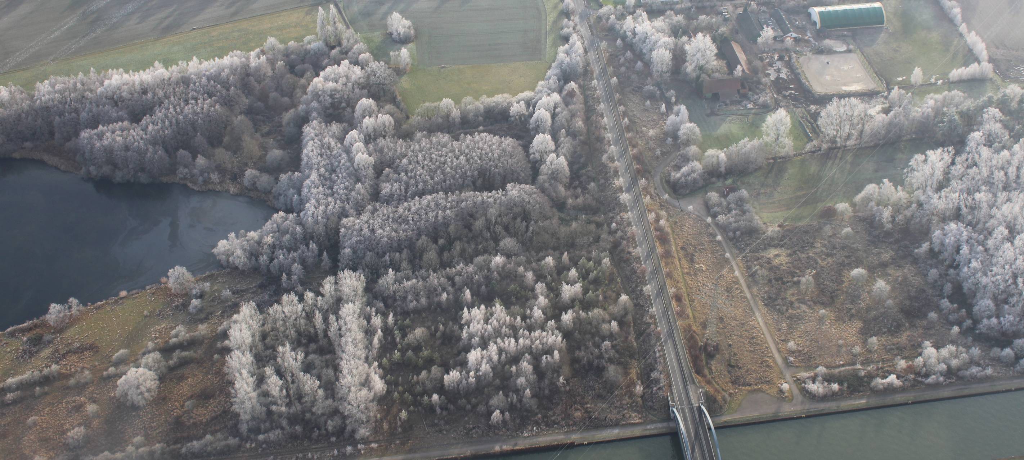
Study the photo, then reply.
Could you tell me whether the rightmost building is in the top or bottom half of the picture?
top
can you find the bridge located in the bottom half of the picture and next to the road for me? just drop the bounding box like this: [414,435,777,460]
[667,389,724,460]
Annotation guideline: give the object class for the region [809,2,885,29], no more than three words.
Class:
building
